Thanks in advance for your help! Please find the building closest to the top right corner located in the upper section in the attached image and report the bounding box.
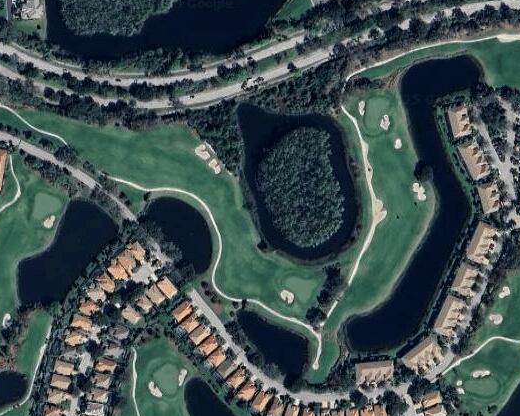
[449,107,474,139]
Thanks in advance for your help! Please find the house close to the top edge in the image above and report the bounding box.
[22,1,45,19]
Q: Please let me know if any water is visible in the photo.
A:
Yes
